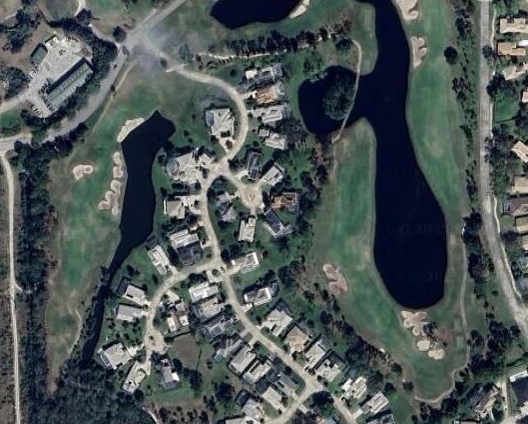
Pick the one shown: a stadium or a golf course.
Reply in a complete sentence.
I can see a golf course in this picture.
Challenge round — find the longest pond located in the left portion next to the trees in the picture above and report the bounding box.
[83,109,175,361]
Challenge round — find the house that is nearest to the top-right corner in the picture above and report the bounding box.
[498,14,528,32]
